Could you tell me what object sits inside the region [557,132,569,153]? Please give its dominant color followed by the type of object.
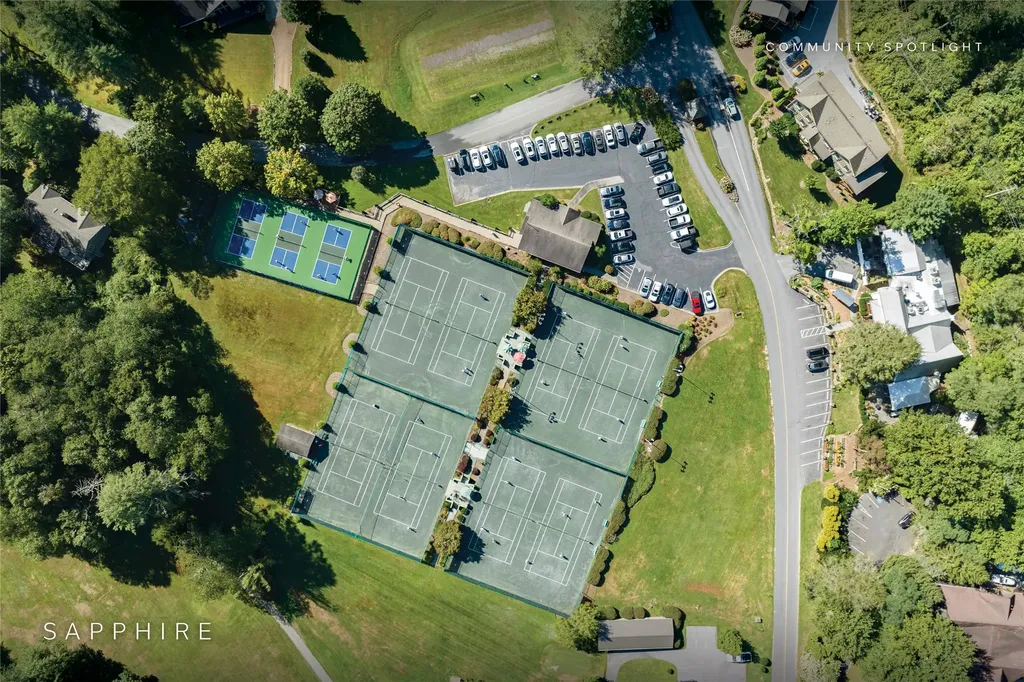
white vehicle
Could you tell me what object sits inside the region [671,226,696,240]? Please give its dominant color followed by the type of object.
white vehicle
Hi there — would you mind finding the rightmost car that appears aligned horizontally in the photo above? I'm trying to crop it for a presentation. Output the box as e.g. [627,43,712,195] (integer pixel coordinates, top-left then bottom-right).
[991,573,1013,585]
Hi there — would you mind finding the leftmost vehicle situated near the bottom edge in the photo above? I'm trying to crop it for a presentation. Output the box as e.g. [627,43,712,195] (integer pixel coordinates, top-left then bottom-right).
[724,650,749,662]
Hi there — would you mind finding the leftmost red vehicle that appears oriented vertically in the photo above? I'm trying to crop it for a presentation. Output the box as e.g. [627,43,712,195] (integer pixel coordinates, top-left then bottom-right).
[690,291,702,315]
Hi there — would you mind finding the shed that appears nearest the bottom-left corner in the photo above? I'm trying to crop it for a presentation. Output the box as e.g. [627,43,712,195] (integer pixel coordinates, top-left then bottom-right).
[276,424,317,457]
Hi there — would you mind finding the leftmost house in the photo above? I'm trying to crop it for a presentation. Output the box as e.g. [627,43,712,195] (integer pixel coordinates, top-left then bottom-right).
[18,184,110,257]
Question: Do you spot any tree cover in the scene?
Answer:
Yes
